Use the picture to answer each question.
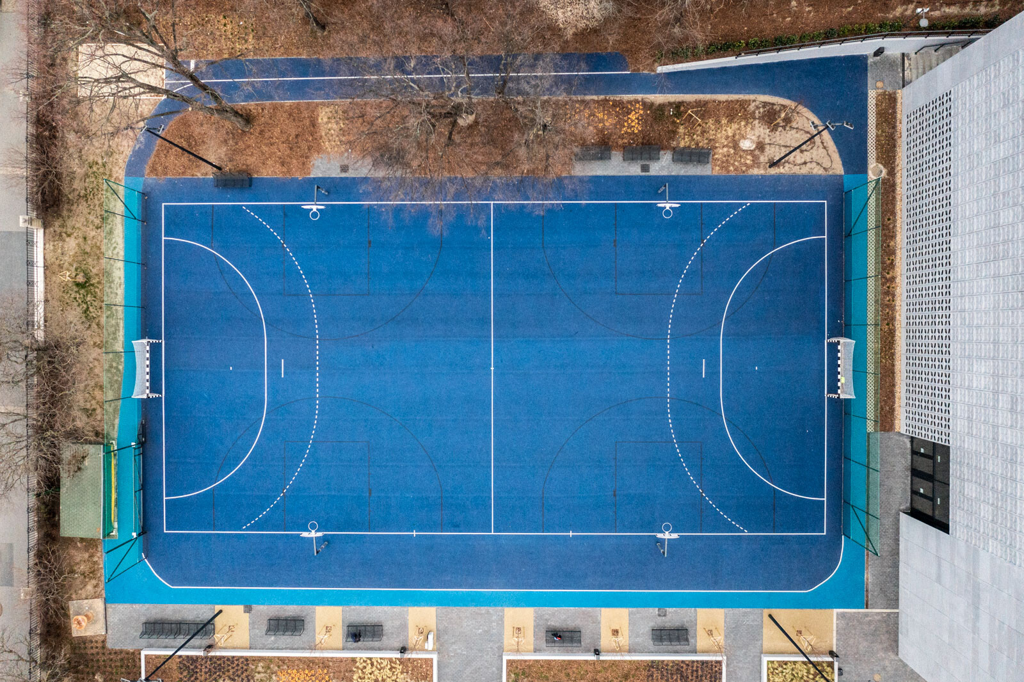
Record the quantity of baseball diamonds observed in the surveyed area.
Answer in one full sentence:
The photo contains no baseball diamonds.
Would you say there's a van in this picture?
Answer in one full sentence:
No, no van is visible in the scene.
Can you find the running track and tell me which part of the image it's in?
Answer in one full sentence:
The running track sits in the top section of the image.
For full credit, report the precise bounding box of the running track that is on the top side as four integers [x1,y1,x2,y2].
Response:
[124,52,868,176]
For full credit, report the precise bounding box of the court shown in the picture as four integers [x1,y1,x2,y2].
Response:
[102,55,869,610]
